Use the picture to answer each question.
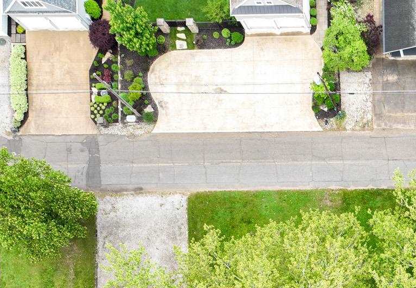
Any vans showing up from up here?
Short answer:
No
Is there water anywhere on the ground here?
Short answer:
No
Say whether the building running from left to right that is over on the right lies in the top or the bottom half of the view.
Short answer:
top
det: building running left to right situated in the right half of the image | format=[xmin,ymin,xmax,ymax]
[233,0,310,36]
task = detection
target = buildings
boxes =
[383,0,416,60]
[233,0,310,36]
[3,0,88,32]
